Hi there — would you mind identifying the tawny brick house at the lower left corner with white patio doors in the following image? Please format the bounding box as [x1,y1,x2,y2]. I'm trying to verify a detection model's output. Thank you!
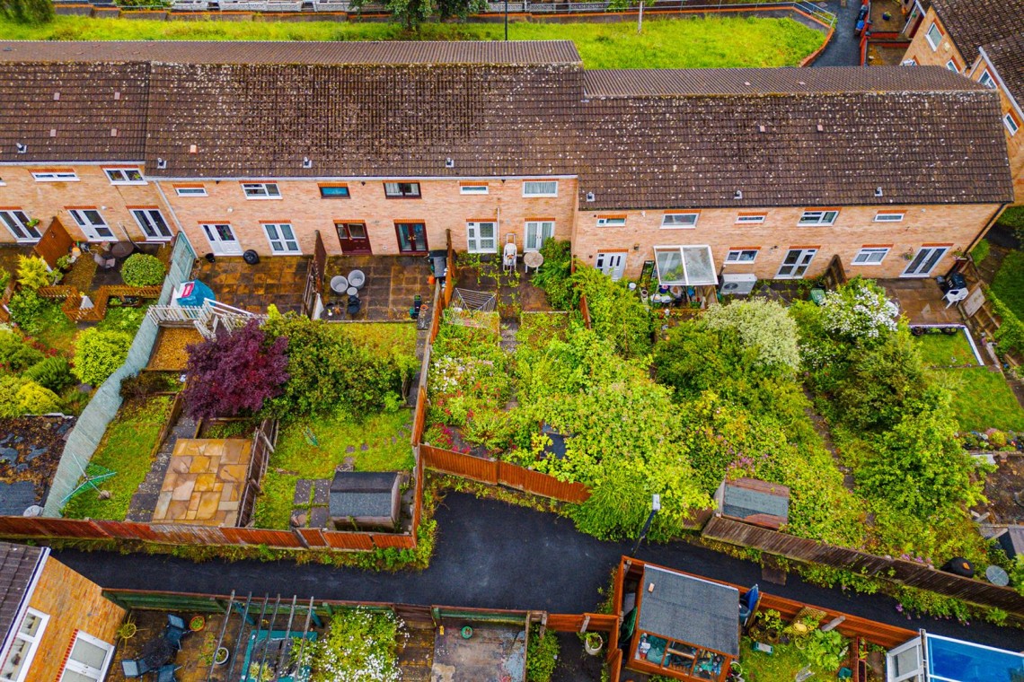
[0,538,127,682]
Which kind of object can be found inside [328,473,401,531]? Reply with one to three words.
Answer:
shed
